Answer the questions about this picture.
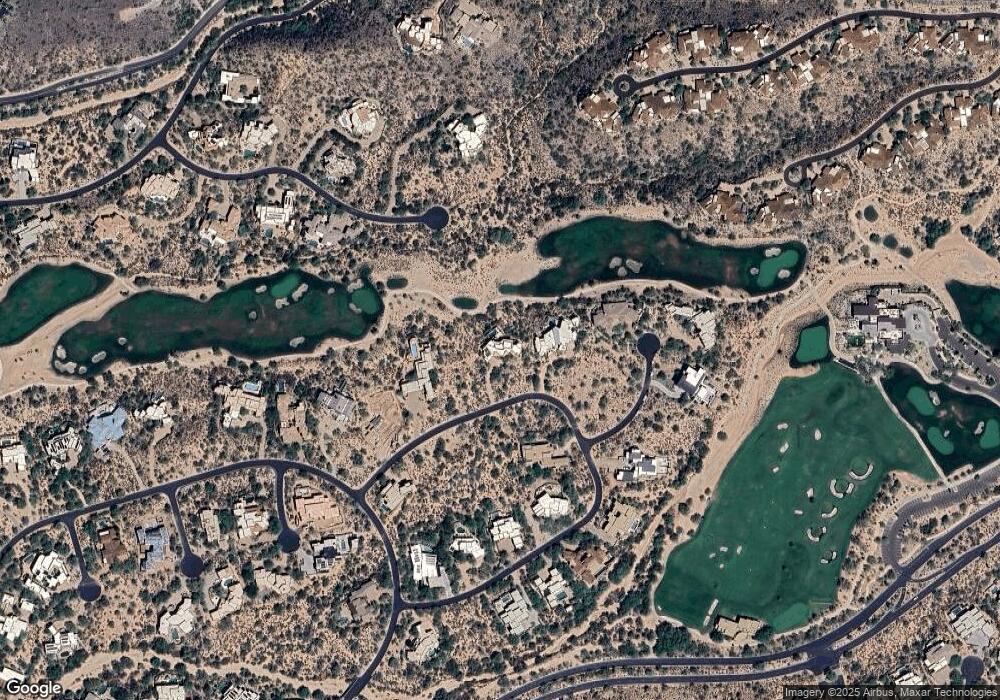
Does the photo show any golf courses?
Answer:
Yes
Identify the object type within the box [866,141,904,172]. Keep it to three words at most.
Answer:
house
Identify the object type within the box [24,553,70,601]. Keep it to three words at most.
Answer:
house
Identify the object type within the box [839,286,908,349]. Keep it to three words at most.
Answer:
building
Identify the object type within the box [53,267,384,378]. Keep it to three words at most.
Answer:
golf course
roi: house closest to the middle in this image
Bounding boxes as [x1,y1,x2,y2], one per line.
[479,326,524,363]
